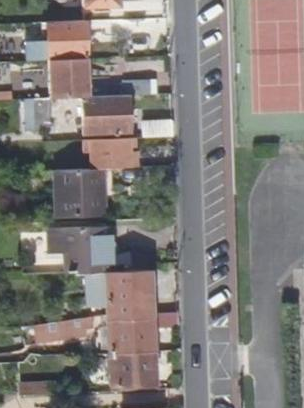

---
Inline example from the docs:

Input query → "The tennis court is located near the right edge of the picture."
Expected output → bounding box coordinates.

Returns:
[236,0,304,148]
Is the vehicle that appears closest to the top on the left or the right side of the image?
right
